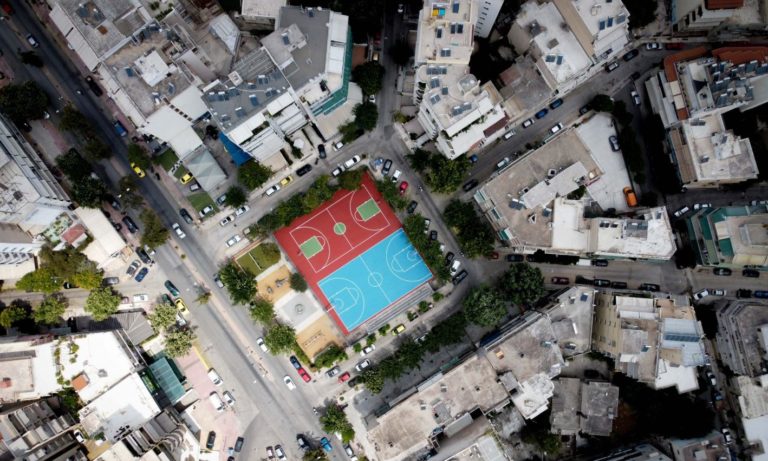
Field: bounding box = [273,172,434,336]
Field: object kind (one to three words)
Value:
sports court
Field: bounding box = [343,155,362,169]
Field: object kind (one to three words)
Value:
vehicle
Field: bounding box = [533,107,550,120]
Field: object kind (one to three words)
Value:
vehicle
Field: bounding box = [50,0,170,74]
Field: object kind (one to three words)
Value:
building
